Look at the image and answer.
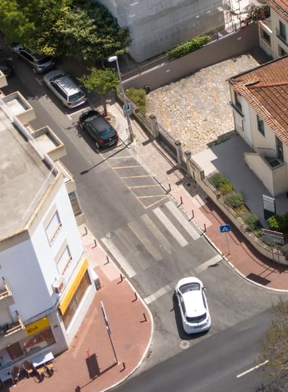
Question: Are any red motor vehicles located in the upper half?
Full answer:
No, in the upper half there is no red motor vehicle.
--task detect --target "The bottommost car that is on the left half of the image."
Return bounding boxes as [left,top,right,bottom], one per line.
[75,106,118,146]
